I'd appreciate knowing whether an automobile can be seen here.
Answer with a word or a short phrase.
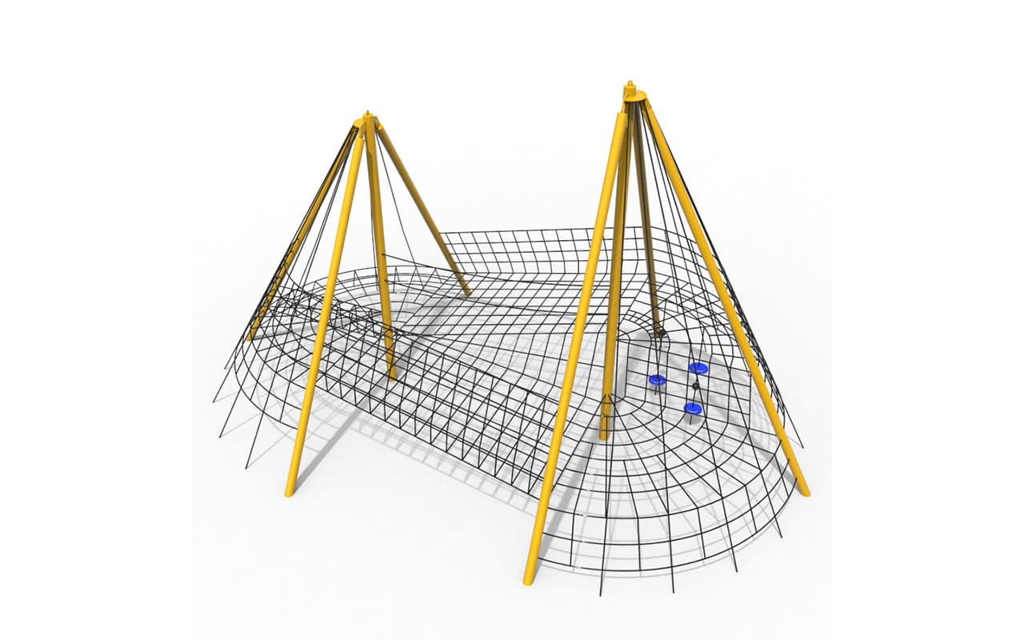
No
